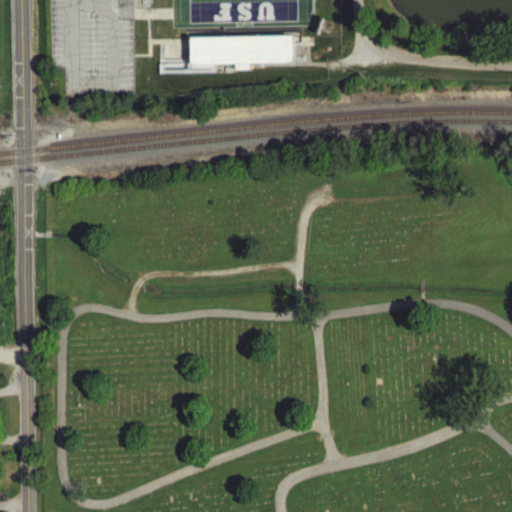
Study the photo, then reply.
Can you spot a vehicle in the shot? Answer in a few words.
No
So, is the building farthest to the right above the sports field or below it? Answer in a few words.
below it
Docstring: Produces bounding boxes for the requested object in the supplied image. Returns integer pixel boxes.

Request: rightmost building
[188,34,294,71]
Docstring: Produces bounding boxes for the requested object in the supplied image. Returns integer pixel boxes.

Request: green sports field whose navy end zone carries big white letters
[174,0,314,28]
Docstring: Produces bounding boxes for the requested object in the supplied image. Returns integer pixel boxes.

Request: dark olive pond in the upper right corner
[391,0,512,47]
